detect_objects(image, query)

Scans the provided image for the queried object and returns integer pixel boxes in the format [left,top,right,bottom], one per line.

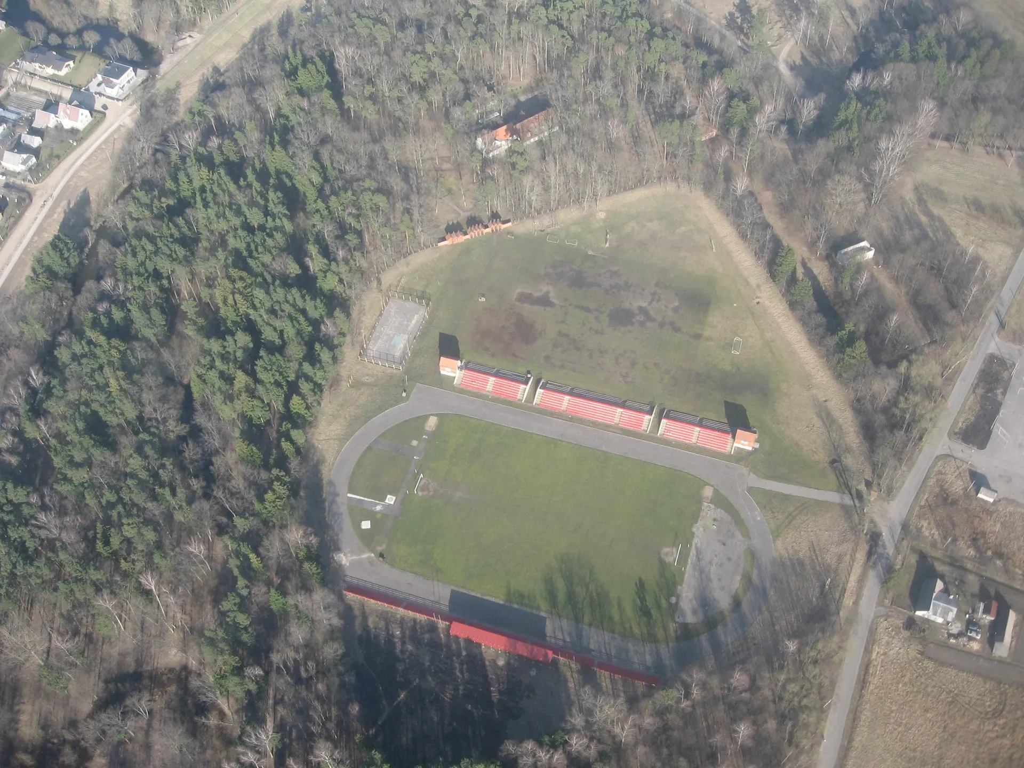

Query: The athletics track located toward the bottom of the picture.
[327,385,773,676]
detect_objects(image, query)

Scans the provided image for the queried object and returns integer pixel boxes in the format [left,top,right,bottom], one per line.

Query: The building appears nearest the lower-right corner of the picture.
[994,606,1022,665]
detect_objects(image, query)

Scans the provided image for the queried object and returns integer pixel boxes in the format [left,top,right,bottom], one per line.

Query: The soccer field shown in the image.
[347,414,753,642]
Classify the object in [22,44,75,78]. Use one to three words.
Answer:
house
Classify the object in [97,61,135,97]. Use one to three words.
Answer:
house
